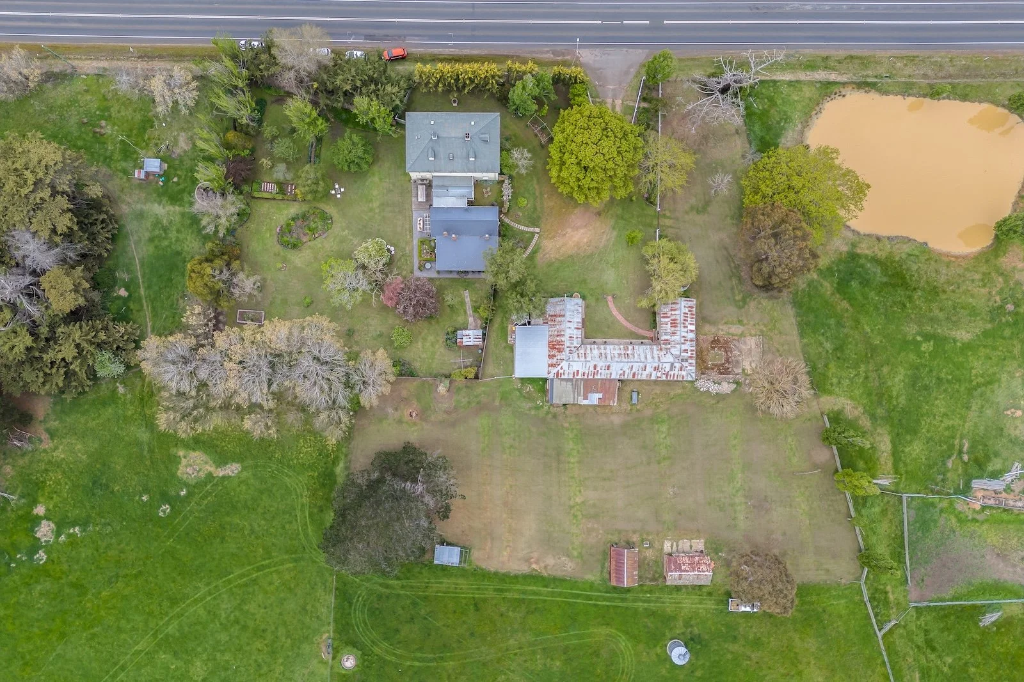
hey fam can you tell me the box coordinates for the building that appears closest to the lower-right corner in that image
[665,553,713,585]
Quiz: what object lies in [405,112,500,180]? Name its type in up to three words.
house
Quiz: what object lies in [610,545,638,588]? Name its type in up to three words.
shed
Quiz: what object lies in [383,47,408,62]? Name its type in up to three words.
car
